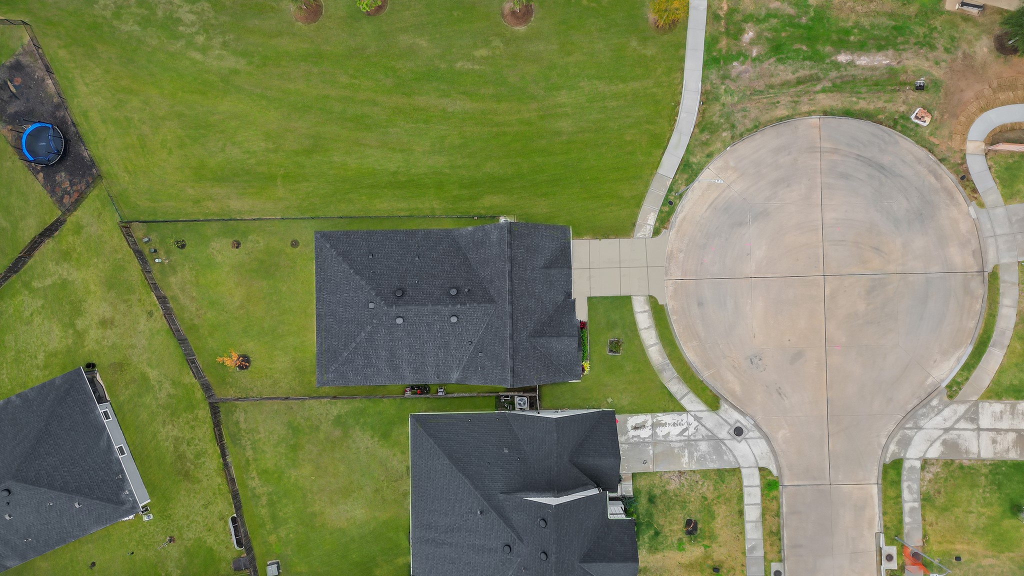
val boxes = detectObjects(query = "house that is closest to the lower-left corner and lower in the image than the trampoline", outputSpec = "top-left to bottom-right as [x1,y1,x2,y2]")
[0,366,162,576]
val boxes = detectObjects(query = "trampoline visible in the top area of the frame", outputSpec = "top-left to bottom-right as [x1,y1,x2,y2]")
[6,117,71,168]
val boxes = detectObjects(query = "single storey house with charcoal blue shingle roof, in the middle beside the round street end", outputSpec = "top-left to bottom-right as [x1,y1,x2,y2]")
[314,223,582,391]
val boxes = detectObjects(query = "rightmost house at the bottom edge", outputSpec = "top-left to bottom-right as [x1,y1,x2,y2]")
[408,406,639,576]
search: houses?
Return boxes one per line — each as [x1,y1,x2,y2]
[314,223,582,391]
[408,406,639,576]
[0,366,162,576]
